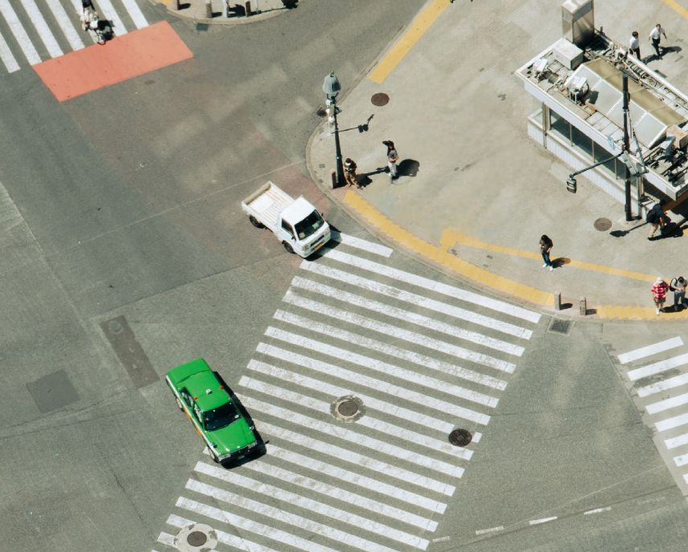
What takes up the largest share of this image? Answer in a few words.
paved ground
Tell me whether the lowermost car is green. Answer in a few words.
Yes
